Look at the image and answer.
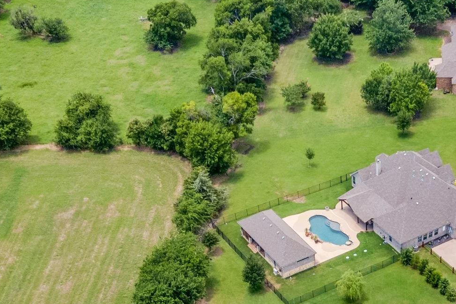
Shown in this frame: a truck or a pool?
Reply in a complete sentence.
The image shows a pool.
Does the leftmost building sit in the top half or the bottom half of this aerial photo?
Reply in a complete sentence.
The leftmost building sits in the bottom half of the picture.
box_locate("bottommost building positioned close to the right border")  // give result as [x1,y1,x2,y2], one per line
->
[336,148,456,252]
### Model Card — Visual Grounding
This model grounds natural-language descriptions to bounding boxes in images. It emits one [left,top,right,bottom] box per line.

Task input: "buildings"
[435,24,456,95]
[237,209,317,279]
[336,148,456,252]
